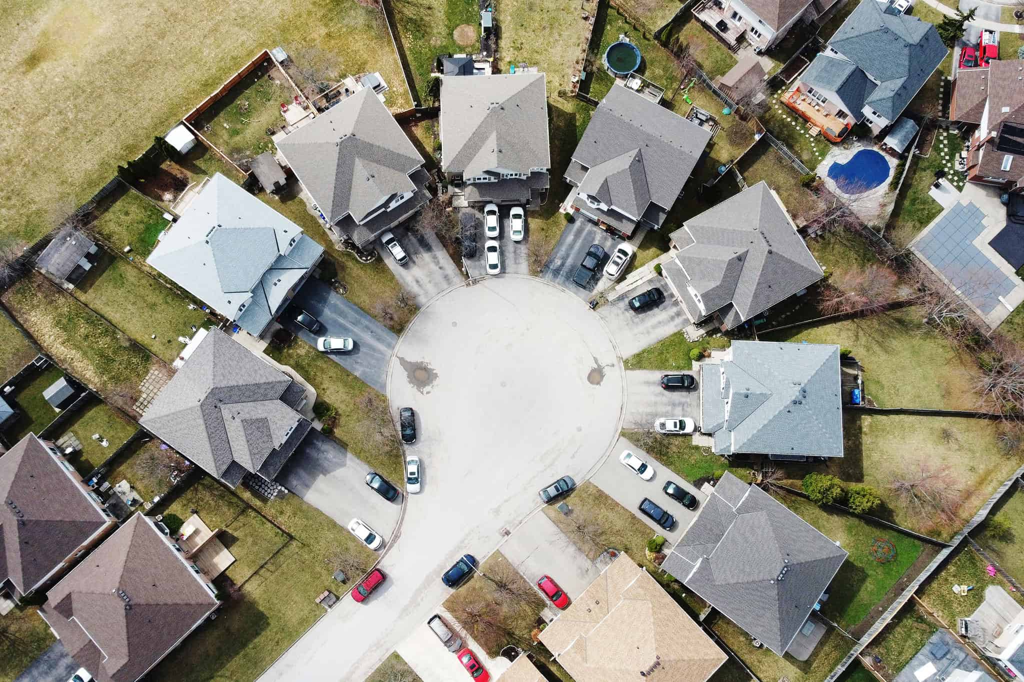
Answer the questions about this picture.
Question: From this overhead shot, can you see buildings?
Yes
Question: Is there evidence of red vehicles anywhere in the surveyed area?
Yes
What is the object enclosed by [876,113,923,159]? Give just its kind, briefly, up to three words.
gazebo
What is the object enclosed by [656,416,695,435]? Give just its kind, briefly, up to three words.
car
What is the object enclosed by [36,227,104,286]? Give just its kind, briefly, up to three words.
shed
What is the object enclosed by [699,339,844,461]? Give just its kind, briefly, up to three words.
house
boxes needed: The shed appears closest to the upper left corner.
[164,124,202,162]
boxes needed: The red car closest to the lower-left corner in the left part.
[351,568,386,601]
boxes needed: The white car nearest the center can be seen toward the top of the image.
[484,241,501,274]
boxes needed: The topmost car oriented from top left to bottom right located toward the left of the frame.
[380,232,408,266]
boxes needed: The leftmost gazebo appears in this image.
[0,393,27,427]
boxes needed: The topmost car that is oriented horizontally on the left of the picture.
[318,335,354,352]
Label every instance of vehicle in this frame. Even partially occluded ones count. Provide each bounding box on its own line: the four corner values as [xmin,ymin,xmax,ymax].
[538,476,576,507]
[351,568,386,601]
[399,408,417,443]
[958,45,978,70]
[572,245,606,286]
[663,479,698,511]
[425,614,465,654]
[604,244,631,279]
[661,372,695,389]
[404,456,422,493]
[629,288,664,310]
[656,416,695,435]
[287,303,322,335]
[365,471,400,504]
[484,241,501,274]
[380,232,408,266]
[347,517,383,553]
[638,496,676,532]
[483,205,499,237]
[618,447,654,482]
[508,208,525,241]
[977,27,999,66]
[318,335,354,352]
[536,574,569,610]
[441,554,476,589]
